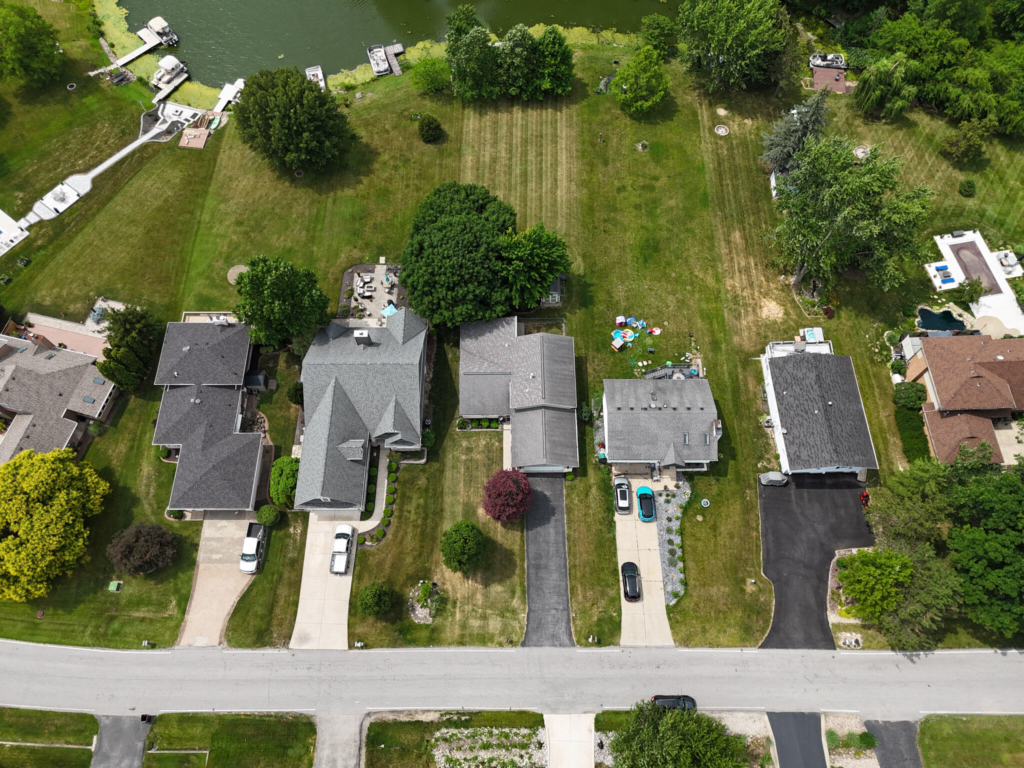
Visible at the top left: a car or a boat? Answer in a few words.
boat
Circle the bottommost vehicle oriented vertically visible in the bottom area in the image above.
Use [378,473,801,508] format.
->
[620,560,642,605]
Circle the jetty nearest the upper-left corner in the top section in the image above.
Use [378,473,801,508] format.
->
[115,27,163,69]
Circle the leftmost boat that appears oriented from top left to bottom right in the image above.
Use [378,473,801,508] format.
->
[145,13,180,50]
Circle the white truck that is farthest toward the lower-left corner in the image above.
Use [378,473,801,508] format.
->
[240,521,267,575]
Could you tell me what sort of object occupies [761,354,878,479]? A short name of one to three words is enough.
house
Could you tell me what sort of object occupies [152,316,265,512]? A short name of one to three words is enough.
house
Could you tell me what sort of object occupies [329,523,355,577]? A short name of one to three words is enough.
truck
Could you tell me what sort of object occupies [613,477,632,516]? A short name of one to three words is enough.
car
